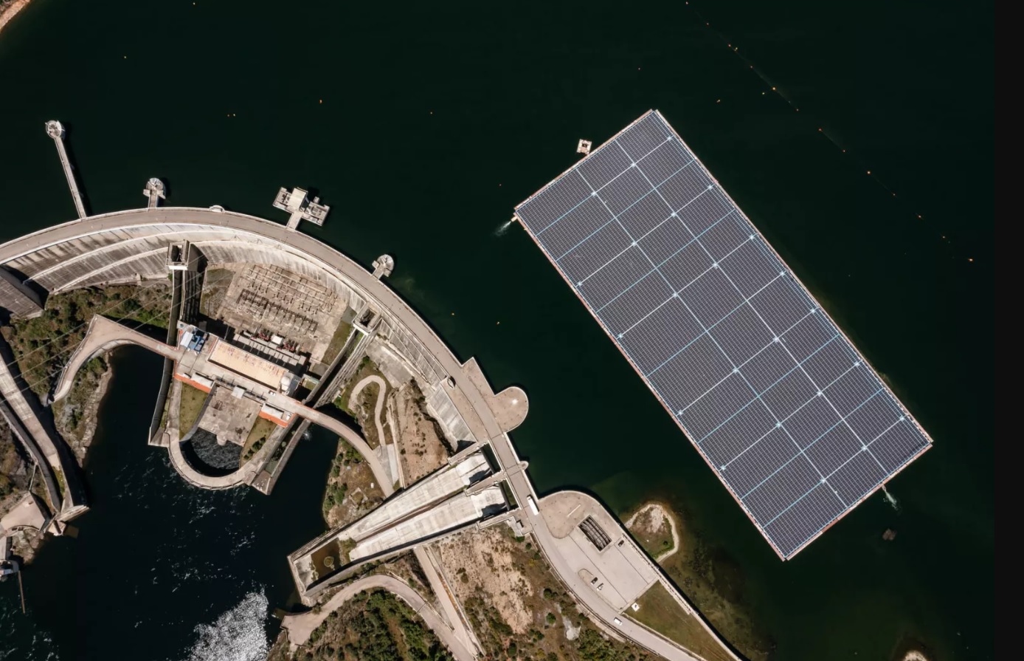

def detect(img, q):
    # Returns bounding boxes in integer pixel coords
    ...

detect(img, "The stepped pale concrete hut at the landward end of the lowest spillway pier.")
[478,509,531,536]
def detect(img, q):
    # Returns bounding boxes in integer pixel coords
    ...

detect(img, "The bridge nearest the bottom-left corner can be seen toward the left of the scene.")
[52,314,178,402]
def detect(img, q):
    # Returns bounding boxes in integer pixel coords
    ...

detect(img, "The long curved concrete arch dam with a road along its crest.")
[0,202,462,389]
